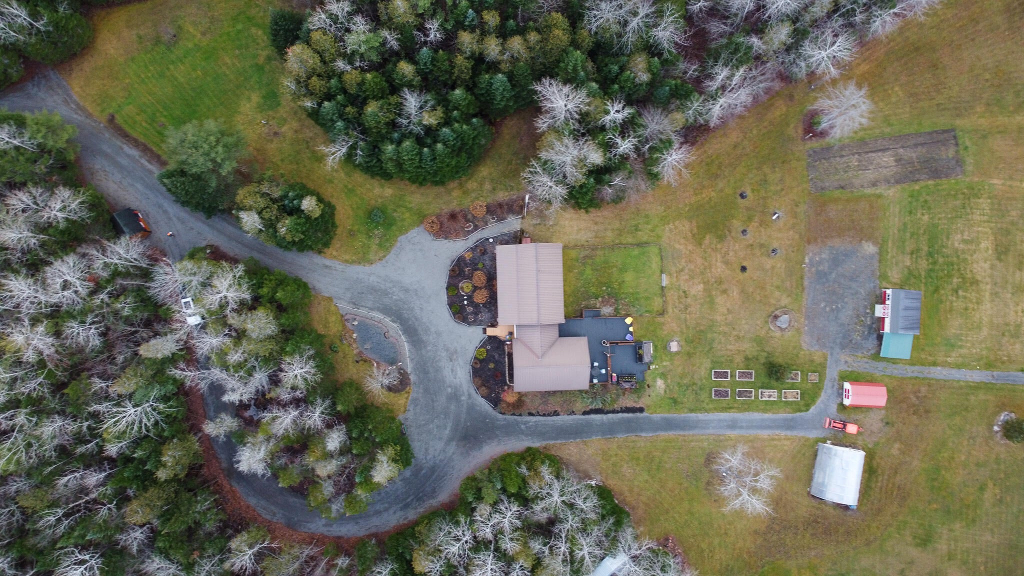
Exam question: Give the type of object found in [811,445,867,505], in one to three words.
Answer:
building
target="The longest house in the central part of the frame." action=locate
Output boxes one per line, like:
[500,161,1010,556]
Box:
[496,237,591,392]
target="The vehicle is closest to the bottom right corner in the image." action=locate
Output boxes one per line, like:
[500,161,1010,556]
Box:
[822,415,863,437]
